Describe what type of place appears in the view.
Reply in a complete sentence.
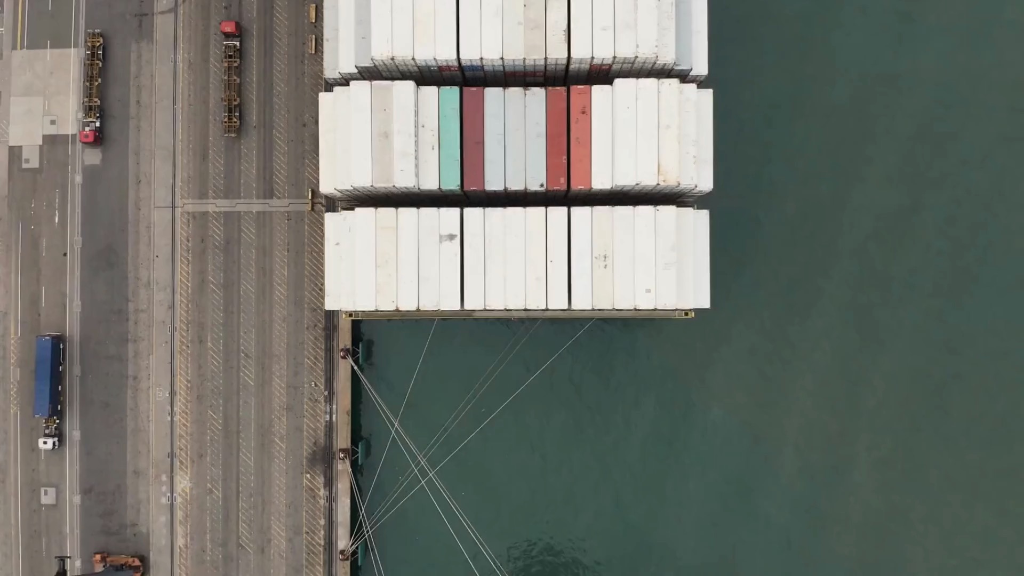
The area seen from above is a port.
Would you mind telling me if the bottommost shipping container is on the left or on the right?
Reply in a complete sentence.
The bottommost shipping container sits on the left side.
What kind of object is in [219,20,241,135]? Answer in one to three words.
truck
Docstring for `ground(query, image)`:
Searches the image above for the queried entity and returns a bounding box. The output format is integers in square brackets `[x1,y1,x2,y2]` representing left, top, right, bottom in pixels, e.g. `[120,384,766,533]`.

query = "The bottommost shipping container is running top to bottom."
[34,335,60,417]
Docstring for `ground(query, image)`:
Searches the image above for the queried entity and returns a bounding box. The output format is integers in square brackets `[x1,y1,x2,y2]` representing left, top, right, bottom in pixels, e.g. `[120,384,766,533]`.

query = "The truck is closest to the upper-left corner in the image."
[78,31,102,144]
